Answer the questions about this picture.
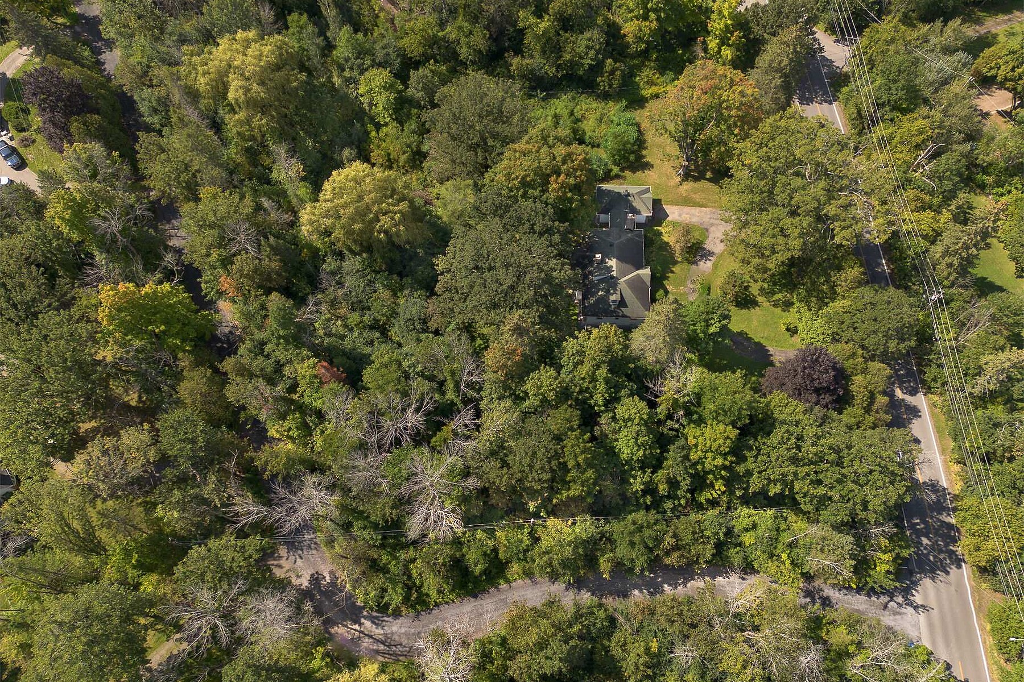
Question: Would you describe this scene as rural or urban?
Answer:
rural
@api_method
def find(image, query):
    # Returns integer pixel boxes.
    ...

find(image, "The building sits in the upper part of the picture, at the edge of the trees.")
[574,185,652,326]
